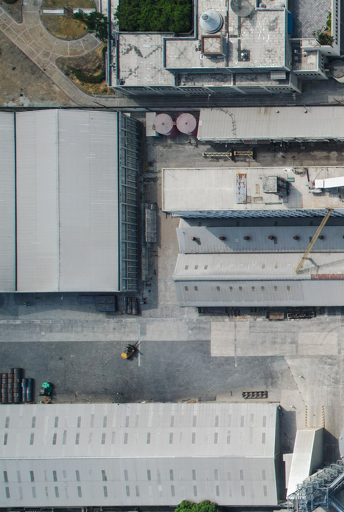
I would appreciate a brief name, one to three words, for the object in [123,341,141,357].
work vehicle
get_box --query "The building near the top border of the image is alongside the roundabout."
[99,0,303,95]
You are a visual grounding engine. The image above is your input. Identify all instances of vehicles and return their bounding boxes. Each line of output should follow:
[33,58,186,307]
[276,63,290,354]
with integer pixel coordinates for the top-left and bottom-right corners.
[41,382,53,397]
[123,341,141,357]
